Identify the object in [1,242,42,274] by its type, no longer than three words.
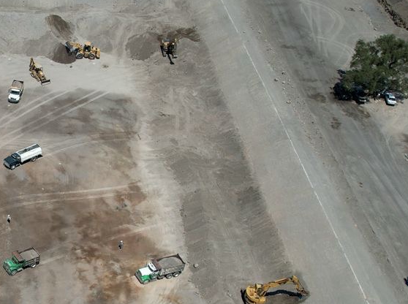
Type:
truck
